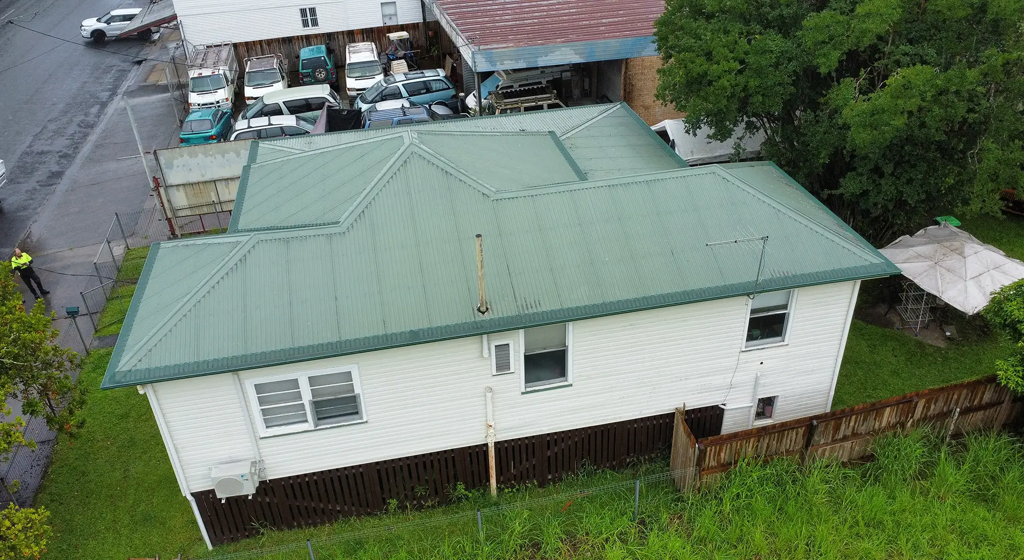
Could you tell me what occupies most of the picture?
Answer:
buildings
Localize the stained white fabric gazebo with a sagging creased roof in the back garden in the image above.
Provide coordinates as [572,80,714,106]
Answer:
[879,218,1024,341]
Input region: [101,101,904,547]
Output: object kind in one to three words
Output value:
house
